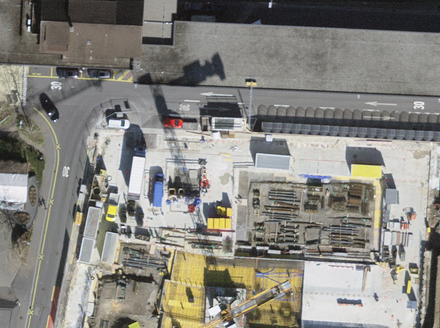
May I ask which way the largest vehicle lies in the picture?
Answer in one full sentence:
From this overhead view, the largest vehicle appears to run up and down.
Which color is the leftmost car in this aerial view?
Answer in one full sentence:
From above, the leftmost car appears black.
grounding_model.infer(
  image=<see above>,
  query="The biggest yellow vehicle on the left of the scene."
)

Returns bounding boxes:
[104,204,118,223]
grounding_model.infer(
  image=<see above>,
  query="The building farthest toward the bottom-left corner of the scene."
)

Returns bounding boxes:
[75,236,94,264]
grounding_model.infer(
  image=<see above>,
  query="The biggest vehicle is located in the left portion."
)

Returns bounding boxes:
[126,145,147,202]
